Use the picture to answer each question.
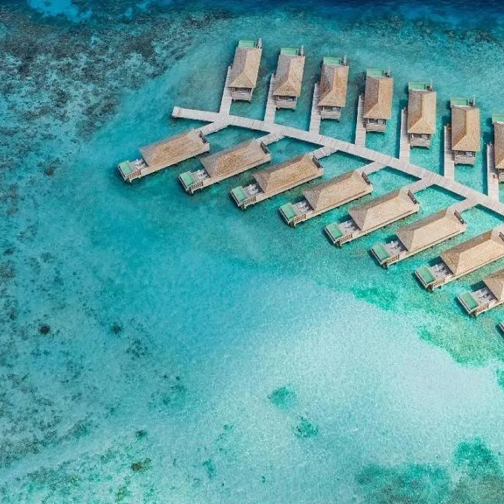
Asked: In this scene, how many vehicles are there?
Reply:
0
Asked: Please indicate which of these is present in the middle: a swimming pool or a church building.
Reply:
swimming pool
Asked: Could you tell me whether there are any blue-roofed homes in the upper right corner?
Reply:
No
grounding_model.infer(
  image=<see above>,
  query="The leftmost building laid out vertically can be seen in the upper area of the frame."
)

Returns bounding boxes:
[228,43,264,110]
